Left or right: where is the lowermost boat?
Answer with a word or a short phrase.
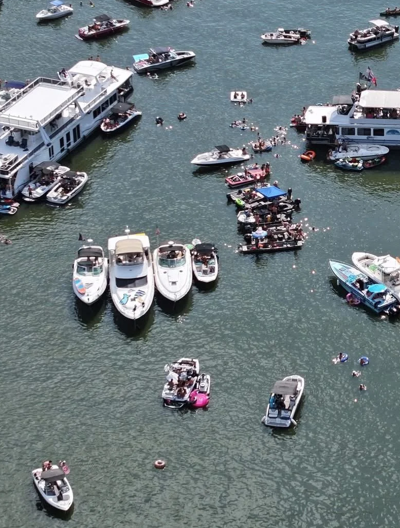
left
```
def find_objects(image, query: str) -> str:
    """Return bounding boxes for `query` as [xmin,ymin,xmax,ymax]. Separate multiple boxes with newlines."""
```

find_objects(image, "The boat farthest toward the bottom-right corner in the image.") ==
[264,378,302,432]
